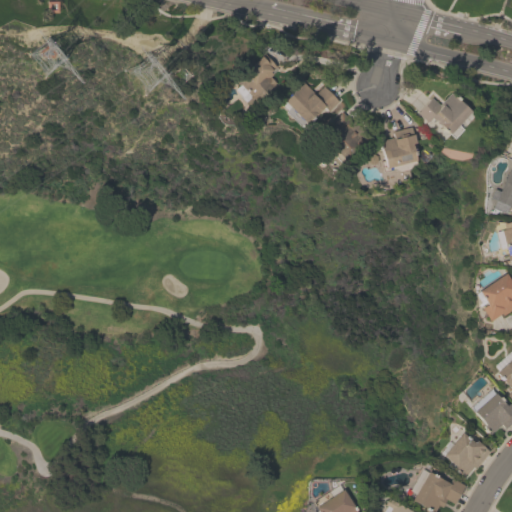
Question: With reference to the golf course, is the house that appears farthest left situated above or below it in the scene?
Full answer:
Looking at the scene, the house that appears farthest left is located above the golf course.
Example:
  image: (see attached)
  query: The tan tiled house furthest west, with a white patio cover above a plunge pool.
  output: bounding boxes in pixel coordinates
[238,56,282,102]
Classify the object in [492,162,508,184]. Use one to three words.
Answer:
swimming pool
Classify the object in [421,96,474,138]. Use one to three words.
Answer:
house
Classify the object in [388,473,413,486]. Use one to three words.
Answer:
swimming pool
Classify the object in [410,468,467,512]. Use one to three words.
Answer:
house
